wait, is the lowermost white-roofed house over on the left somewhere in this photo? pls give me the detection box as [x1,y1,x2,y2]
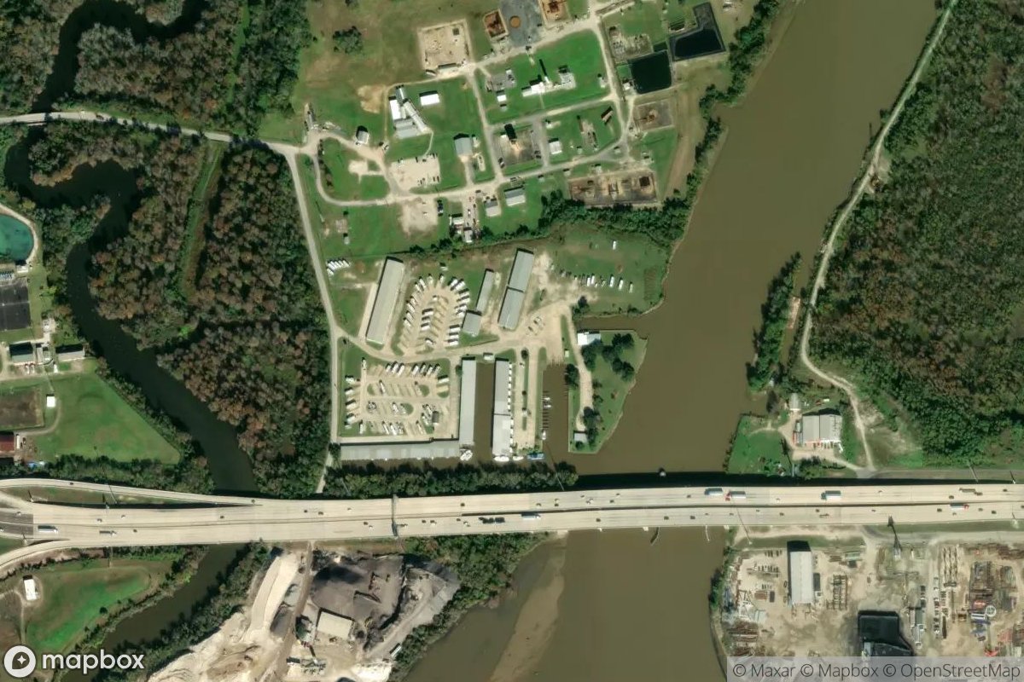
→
[316,611,352,641]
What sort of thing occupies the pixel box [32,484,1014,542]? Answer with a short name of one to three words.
bridge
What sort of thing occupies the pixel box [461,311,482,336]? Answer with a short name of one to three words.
shed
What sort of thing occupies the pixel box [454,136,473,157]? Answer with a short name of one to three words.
building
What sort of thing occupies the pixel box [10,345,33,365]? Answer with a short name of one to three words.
house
